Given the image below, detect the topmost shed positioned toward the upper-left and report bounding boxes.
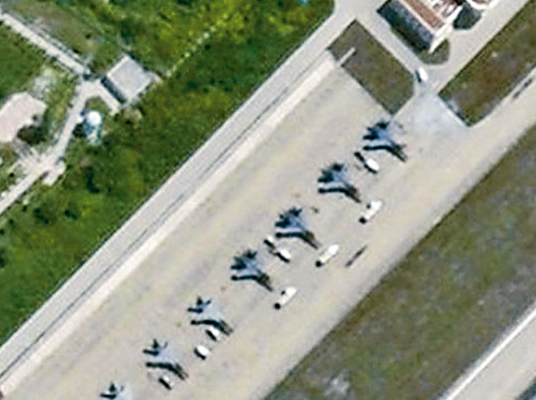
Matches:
[106,54,154,106]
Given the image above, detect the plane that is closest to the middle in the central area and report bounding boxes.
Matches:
[273,200,320,242]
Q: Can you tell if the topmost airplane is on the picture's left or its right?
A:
right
